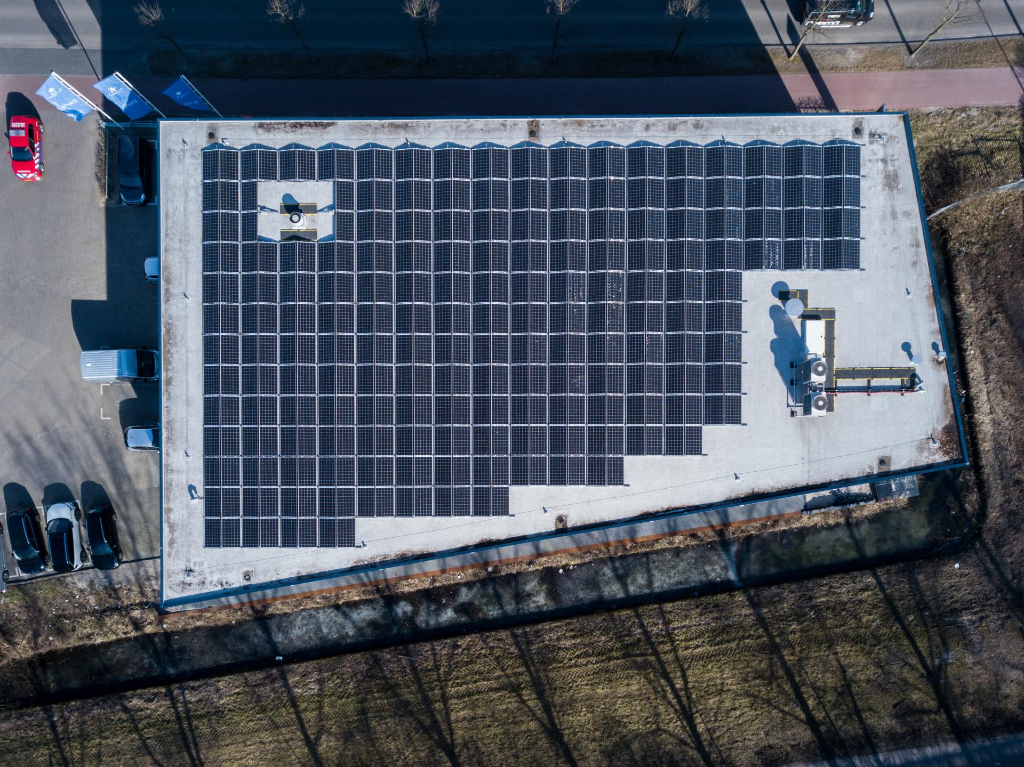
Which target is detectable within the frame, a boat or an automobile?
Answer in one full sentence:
There is an automobile in the scene.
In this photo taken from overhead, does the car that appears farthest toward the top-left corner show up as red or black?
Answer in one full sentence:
In this view, the car that appears farthest toward the top-left corner is red.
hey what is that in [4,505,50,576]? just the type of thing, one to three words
car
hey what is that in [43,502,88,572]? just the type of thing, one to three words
car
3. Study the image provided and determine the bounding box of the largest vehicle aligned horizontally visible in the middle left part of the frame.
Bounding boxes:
[83,348,160,382]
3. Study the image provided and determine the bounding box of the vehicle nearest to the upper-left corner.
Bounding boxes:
[2,114,44,181]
